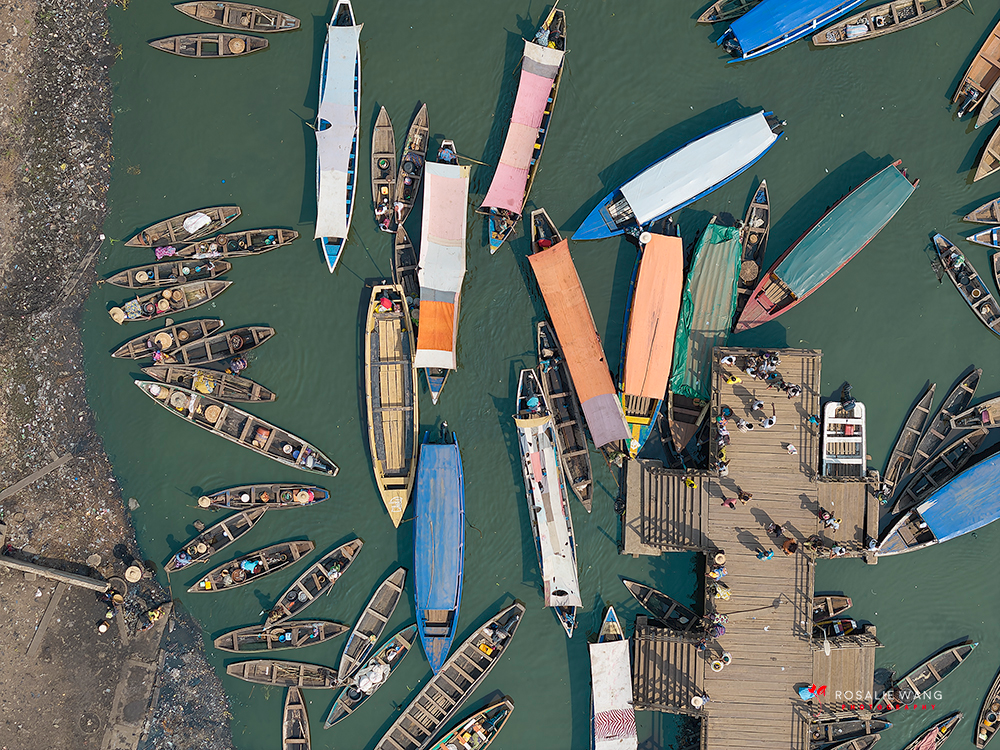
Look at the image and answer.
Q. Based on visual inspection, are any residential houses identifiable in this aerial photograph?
No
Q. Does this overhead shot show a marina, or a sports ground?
marina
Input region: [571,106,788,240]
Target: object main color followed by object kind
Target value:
white boat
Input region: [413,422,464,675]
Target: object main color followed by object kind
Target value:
blue boat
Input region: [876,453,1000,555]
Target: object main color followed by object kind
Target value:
blue boat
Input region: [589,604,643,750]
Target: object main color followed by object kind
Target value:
white boat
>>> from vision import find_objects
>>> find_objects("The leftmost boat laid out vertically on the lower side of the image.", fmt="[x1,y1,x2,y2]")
[279,687,310,750]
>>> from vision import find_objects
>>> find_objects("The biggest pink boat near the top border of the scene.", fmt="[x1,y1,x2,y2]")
[479,7,566,255]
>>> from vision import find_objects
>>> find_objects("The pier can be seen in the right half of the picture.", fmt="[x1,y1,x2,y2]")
[624,348,887,750]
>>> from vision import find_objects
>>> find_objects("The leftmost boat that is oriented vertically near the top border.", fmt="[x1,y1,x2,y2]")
[315,0,360,272]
